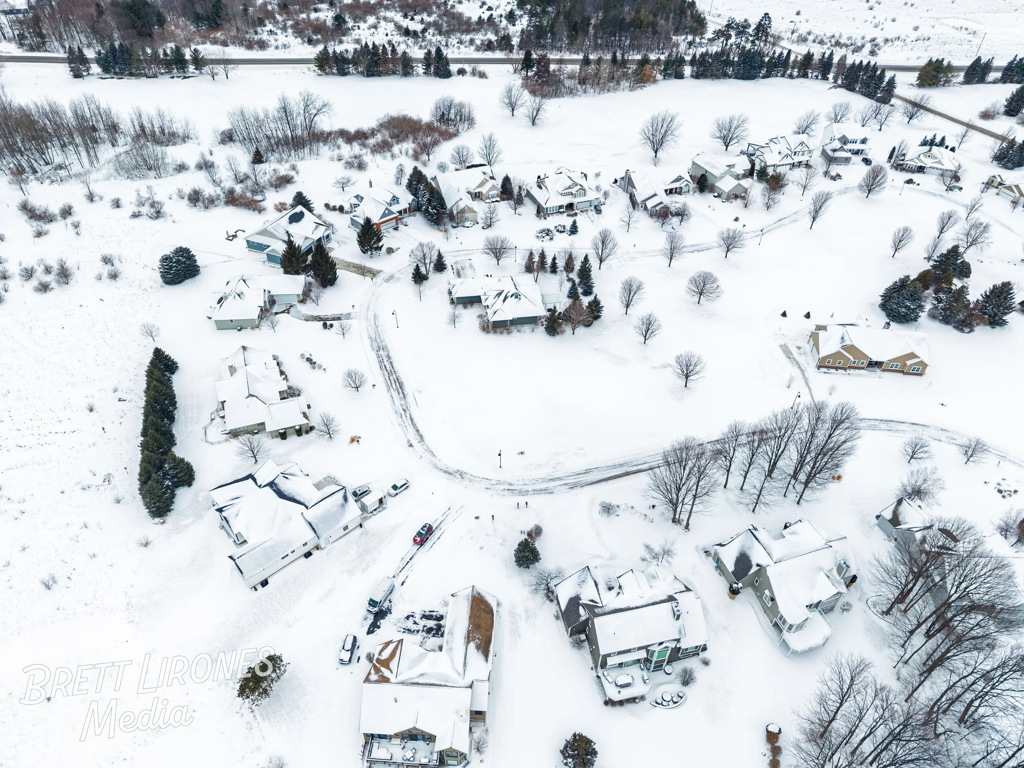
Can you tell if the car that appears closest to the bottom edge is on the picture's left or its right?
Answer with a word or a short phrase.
left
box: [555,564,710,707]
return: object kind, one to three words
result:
house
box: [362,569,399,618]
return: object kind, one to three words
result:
van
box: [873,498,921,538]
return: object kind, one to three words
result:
house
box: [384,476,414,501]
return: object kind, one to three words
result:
car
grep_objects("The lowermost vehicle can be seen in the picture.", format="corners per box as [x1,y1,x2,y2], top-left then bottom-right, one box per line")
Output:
[338,628,360,667]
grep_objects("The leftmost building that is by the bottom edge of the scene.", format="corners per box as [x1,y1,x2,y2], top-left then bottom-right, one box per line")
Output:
[359,588,496,768]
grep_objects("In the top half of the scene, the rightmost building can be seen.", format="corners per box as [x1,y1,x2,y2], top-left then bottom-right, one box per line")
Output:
[974,172,1024,207]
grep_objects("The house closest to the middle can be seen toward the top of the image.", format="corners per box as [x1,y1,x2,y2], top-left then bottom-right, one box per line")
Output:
[448,274,562,330]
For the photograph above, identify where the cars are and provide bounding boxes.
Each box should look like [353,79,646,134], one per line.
[860,155,876,165]
[594,205,603,214]
[338,628,360,667]
[411,519,437,547]
[351,481,375,501]
[384,476,414,501]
